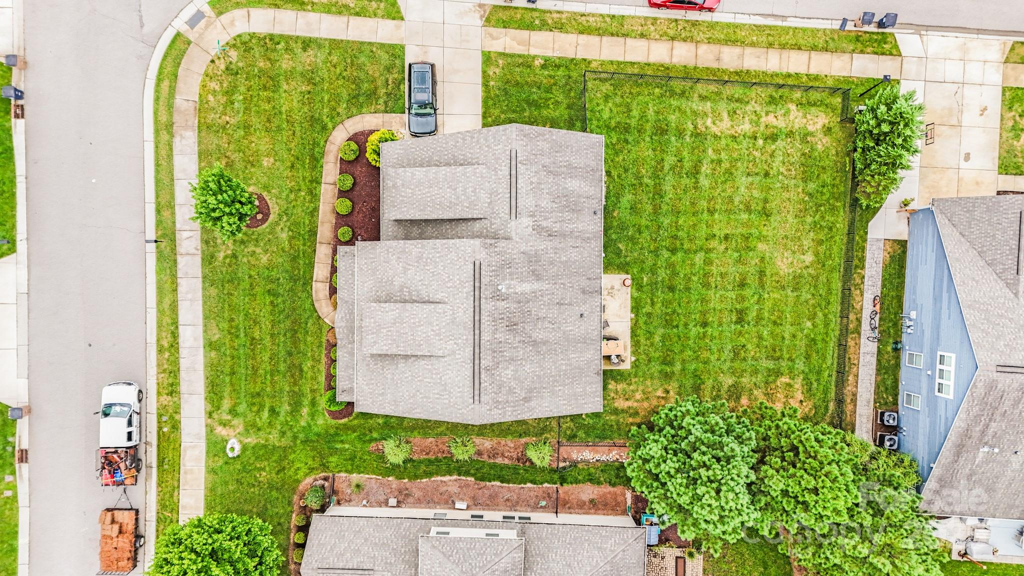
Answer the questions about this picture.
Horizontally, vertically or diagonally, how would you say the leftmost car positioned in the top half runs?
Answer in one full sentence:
The leftmost car positioned in the top half runs vertically in the image.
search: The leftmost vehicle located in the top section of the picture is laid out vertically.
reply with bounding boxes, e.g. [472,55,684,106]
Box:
[404,61,441,138]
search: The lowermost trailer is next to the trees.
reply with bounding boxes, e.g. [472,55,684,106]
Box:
[99,487,151,576]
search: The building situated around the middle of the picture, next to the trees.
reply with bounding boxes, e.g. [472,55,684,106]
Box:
[333,124,605,424]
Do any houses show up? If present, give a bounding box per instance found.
[300,502,648,576]
[894,193,1024,522]
[333,124,605,424]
